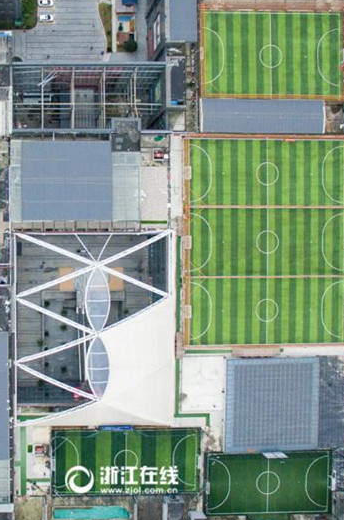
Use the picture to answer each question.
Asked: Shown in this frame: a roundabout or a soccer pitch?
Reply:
soccer pitch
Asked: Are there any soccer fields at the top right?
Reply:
Yes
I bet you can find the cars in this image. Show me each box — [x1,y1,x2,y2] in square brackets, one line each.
[38,0,54,7]
[38,15,54,22]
